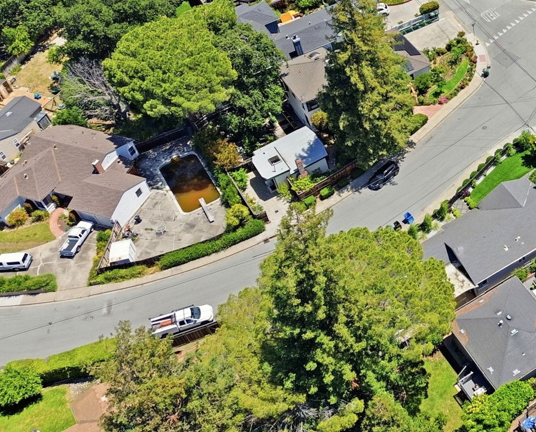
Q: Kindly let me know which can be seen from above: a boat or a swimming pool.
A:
swimming pool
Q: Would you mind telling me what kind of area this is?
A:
residential area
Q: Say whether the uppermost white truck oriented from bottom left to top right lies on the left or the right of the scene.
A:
left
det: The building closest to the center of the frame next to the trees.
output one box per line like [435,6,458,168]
[252,128,329,196]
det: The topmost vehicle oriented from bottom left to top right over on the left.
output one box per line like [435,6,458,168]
[51,218,98,264]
